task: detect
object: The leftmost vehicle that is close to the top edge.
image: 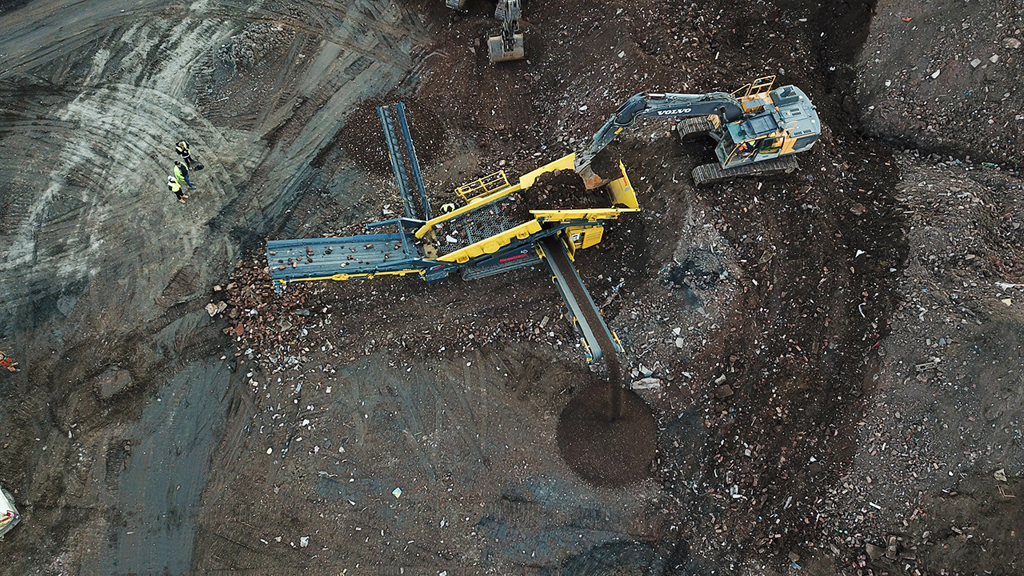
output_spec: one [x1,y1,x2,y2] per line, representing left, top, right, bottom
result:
[486,0,523,68]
